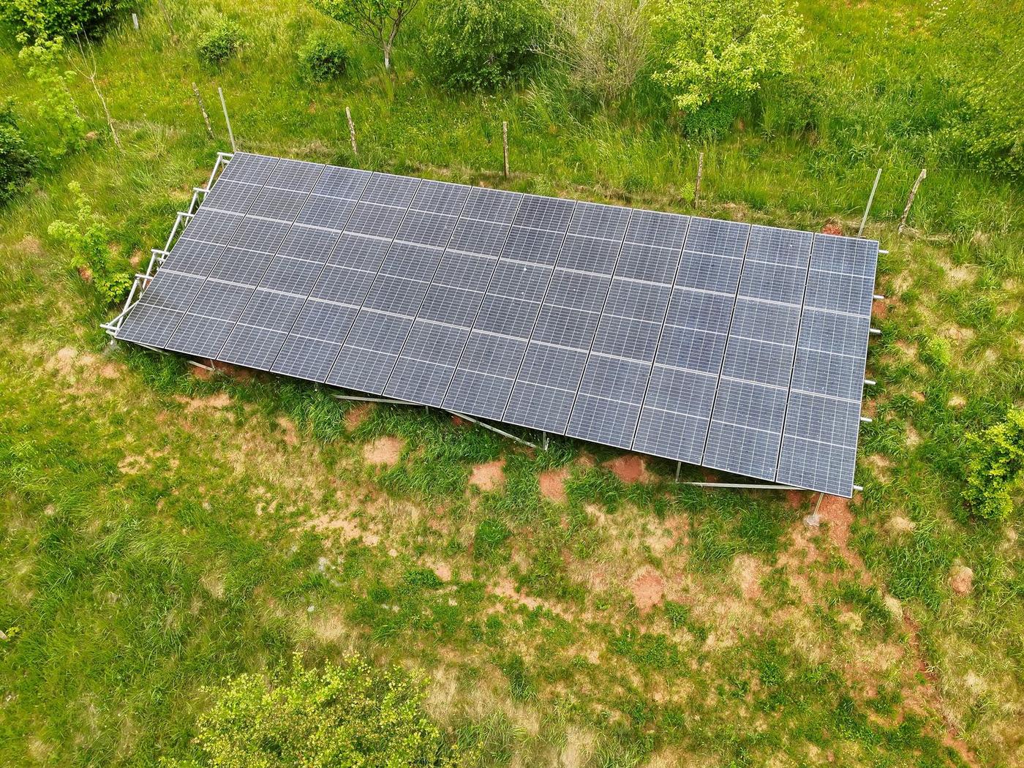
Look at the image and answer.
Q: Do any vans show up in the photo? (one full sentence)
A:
No, there appears to be no van in this shot.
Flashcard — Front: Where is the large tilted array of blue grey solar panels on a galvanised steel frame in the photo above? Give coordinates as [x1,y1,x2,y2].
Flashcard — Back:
[105,152,887,523]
